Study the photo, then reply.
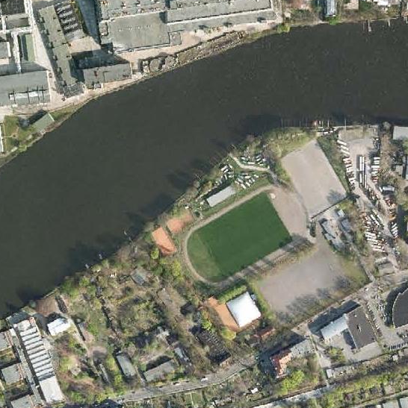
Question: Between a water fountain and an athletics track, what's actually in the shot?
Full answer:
Looking from above, you can make out an athletics track.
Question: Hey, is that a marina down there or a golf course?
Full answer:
It's a marina.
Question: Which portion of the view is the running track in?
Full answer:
Look in the center portion of the view to spot the running track.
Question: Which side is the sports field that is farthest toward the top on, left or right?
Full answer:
It is on the right.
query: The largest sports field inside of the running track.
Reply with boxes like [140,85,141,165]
[195,192,288,274]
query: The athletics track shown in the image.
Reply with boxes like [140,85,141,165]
[180,183,303,282]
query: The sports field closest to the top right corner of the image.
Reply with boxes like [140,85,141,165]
[282,138,347,217]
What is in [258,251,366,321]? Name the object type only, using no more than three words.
sports field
